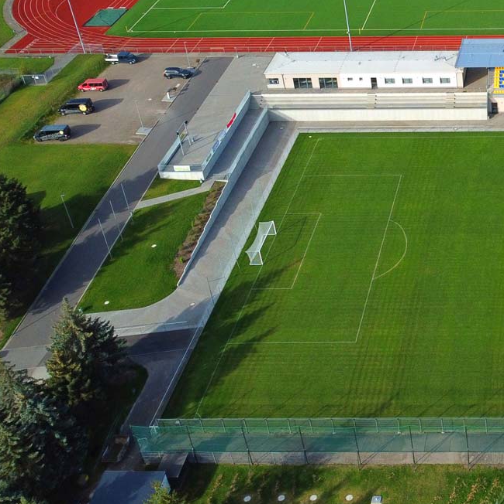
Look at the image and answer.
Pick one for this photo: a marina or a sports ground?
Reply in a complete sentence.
What you see here is a sports ground.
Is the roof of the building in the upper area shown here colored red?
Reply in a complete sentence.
No, the roof of the building in the upper area is white.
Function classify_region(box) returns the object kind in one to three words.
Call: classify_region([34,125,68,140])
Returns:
vehicle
